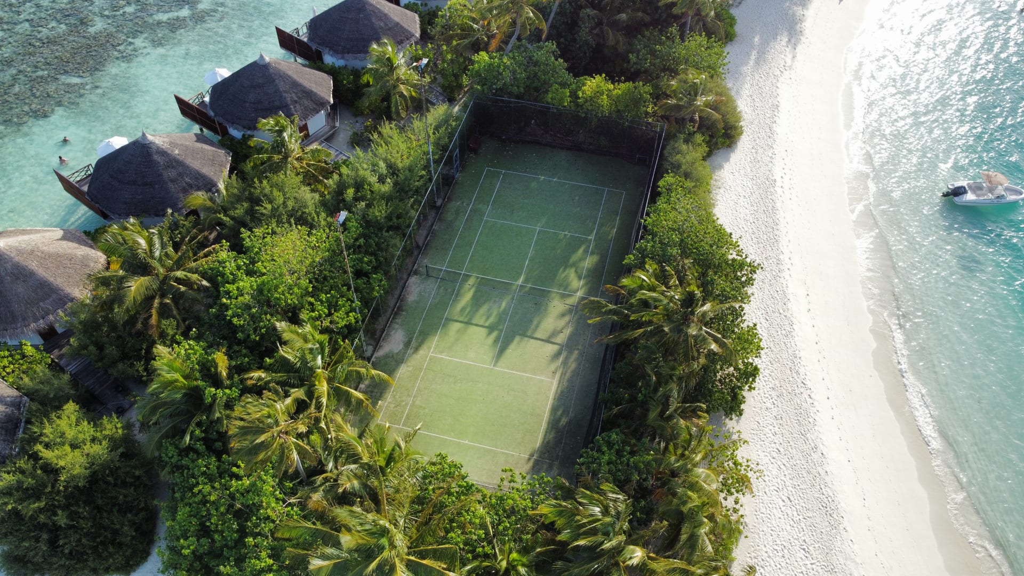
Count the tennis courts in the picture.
1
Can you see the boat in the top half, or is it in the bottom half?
top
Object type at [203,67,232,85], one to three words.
umbrella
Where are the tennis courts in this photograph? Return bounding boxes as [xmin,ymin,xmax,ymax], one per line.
[330,134,647,492]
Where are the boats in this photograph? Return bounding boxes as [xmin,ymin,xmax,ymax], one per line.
[940,172,1024,206]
